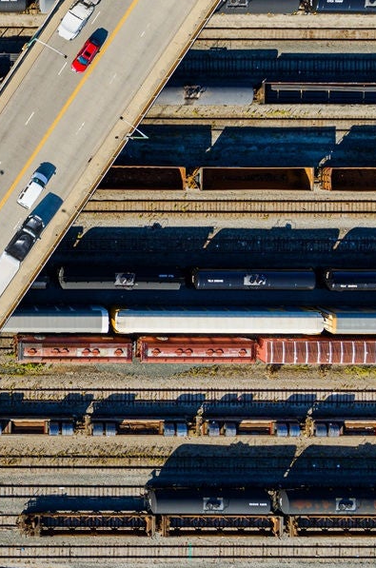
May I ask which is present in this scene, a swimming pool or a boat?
boat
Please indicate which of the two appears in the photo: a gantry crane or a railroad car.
railroad car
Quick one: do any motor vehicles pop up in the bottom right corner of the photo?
Yes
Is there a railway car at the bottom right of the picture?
Yes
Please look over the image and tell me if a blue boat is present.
No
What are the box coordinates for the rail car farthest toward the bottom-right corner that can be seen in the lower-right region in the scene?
[272,485,376,518]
